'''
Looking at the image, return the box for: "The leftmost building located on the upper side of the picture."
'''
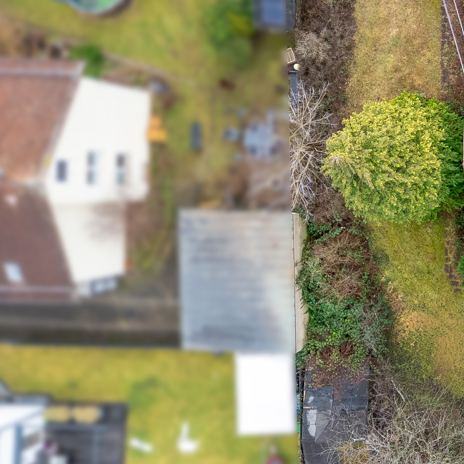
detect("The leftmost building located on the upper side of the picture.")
[0,54,147,291]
